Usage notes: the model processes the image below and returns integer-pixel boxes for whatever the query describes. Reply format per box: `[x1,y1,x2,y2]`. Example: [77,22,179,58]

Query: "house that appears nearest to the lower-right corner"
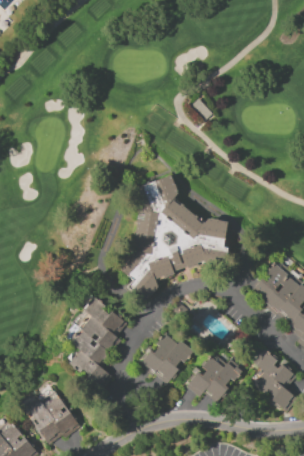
[255,351,296,408]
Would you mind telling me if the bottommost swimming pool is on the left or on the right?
right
